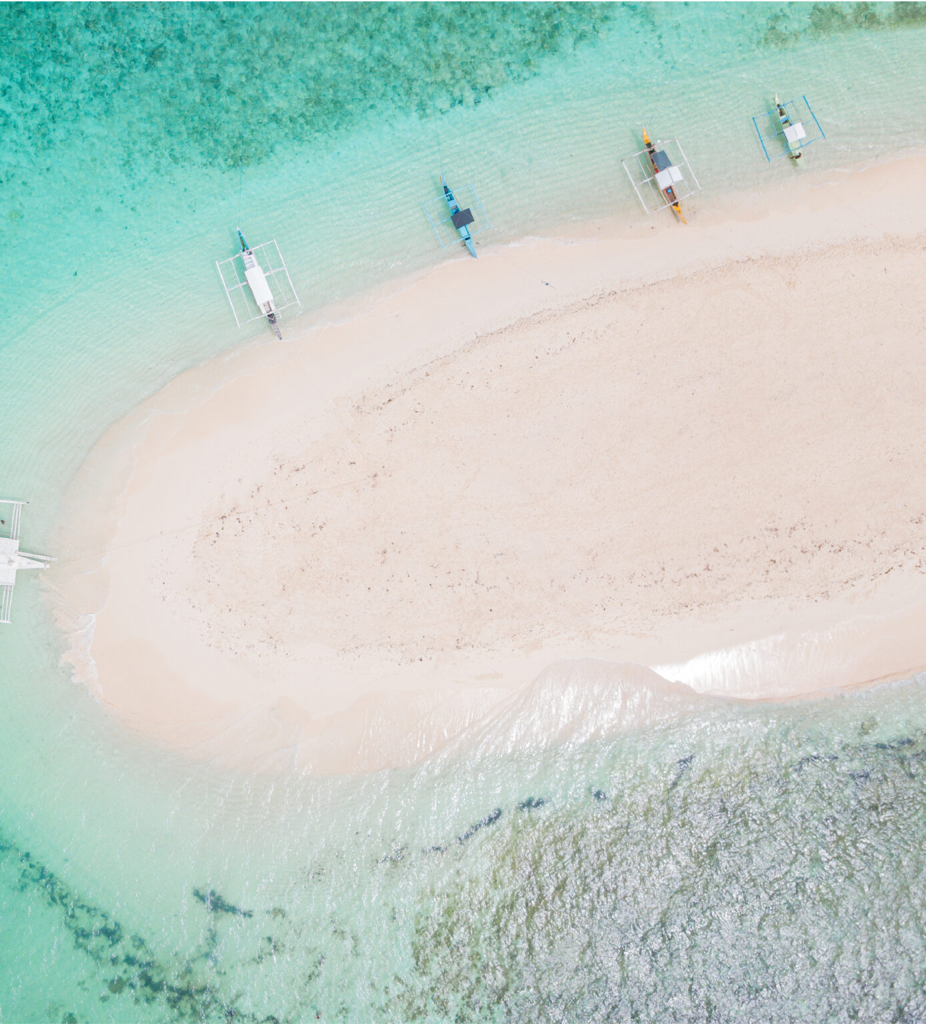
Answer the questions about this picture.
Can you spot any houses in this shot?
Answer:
No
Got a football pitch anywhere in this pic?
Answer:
No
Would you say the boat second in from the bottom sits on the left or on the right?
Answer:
left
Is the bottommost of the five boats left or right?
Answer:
left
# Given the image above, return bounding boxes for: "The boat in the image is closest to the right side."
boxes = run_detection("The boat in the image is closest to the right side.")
[753,93,826,170]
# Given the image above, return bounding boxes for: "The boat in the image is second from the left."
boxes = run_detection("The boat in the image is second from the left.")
[216,228,301,339]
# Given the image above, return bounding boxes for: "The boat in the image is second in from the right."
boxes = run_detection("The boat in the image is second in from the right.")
[622,126,701,225]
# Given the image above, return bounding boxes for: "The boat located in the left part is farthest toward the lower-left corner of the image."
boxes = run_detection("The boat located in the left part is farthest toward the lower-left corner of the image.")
[0,500,59,624]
